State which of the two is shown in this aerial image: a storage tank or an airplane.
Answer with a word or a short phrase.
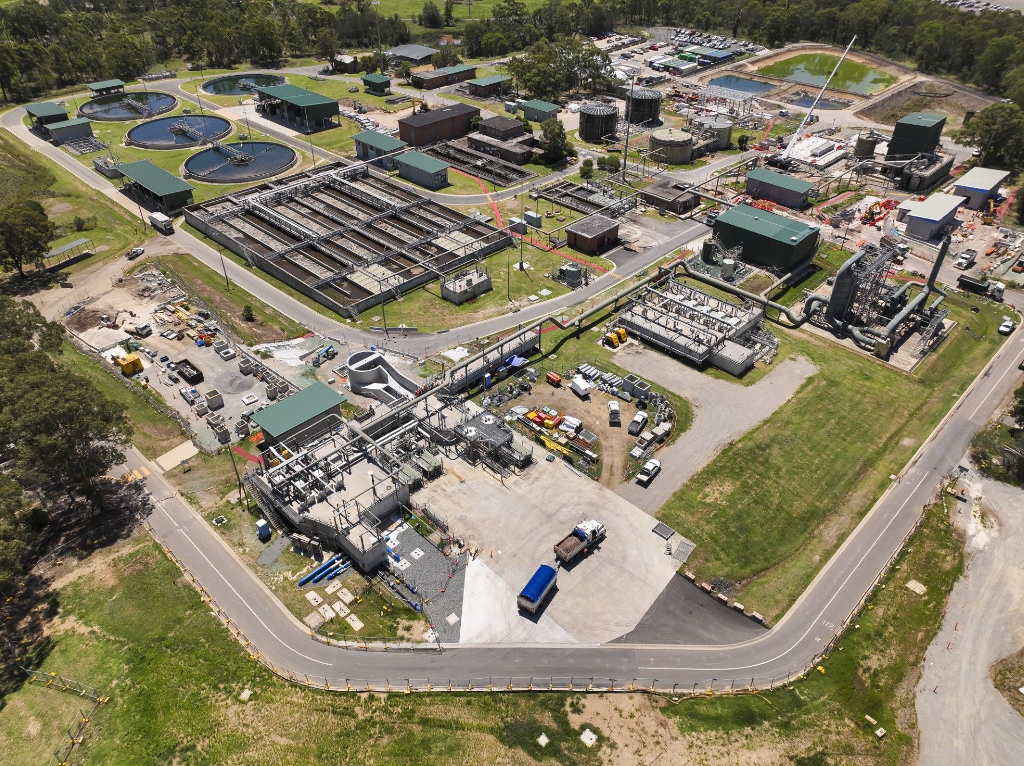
storage tank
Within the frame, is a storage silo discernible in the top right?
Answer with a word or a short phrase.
Yes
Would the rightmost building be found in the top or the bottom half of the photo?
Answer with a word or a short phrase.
top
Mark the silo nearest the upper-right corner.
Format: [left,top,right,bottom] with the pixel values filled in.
[853,128,882,155]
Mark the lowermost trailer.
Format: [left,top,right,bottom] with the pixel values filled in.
[513,563,561,616]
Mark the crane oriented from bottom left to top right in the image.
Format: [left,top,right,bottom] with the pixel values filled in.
[766,33,859,159]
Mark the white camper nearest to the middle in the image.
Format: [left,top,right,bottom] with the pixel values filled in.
[572,378,593,398]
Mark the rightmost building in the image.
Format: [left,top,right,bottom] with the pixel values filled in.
[950,164,1012,207]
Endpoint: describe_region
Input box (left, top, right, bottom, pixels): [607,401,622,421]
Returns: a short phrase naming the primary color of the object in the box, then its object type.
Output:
white vehicle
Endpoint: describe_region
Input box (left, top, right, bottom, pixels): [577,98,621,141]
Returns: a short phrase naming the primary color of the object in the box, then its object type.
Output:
black storage tank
